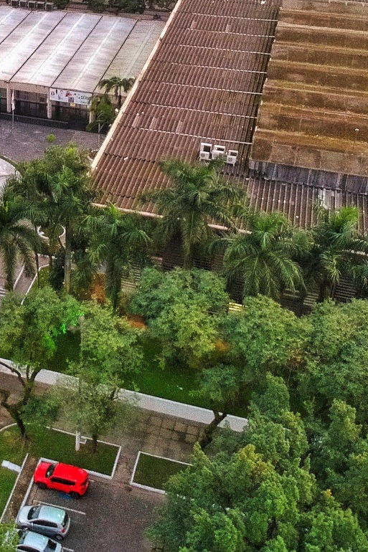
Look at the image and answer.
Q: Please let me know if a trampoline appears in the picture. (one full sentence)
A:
No, there's no trampoline here.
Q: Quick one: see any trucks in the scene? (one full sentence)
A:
No, no truck is visible in the scene.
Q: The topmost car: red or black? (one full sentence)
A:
In this view, the topmost car is red.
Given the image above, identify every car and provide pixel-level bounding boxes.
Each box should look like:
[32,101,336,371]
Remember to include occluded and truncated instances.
[34,461,91,499]
[6,533,69,552]
[16,503,72,541]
